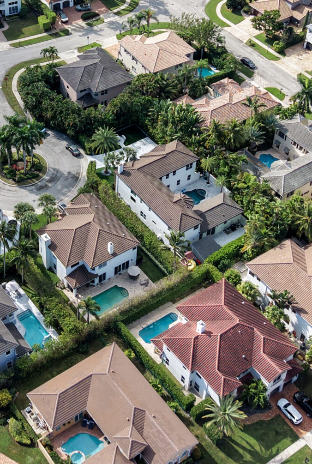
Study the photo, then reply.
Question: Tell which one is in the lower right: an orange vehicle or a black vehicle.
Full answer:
The one visible in the lower right is a black vehicle.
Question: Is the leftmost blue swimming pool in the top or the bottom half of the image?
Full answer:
The leftmost blue swimming pool is in the bottom half of the image.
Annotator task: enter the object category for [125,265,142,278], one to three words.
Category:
umbrella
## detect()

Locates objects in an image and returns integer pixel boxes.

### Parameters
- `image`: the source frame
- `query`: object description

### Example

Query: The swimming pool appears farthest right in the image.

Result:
[257,152,278,169]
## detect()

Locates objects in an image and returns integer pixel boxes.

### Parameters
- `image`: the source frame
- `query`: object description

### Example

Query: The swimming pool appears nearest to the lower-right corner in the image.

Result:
[138,312,179,344]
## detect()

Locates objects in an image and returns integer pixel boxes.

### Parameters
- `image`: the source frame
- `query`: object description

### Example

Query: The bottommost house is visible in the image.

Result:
[28,345,213,464]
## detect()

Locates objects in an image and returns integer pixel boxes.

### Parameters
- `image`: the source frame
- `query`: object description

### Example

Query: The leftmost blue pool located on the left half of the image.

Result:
[14,307,51,349]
